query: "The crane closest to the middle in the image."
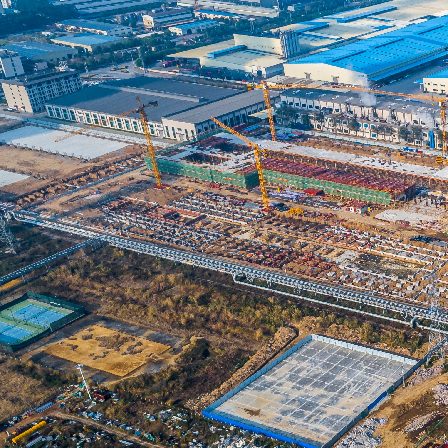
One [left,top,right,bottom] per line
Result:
[210,115,273,212]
